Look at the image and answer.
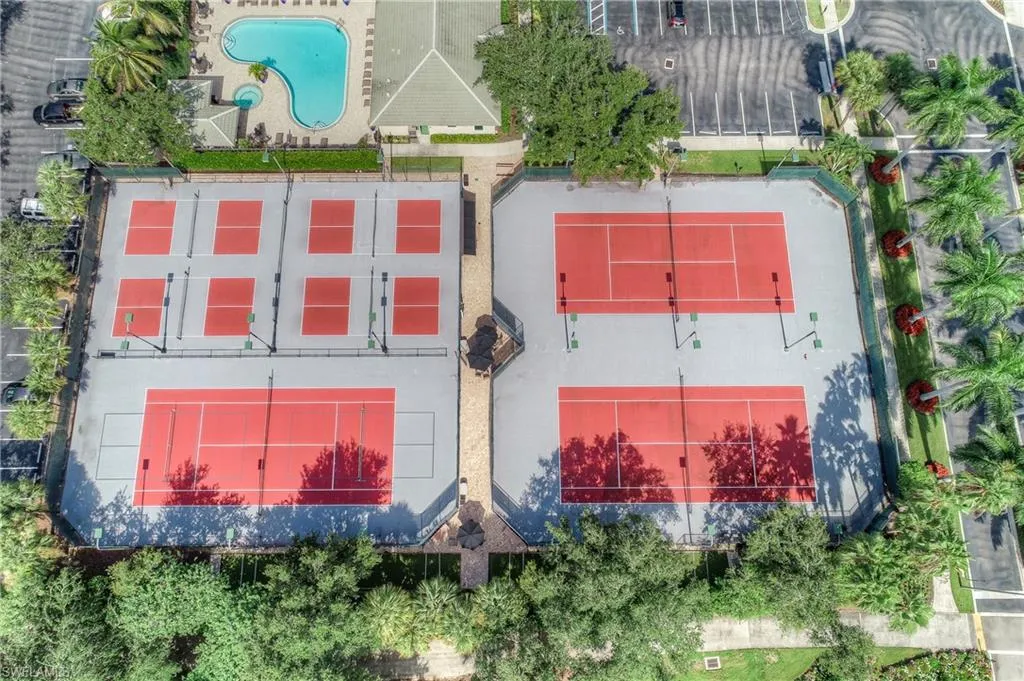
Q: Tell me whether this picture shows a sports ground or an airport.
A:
sports ground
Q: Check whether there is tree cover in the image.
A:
Yes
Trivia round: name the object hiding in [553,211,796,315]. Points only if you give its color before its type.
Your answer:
red tennis court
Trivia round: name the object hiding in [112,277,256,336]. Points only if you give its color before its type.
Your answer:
red sports court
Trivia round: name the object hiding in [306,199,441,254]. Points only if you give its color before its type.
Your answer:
red sports court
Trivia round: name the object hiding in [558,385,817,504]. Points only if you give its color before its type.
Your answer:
red tennis court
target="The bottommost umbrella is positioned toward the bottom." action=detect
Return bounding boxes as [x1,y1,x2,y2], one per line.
[455,520,486,552]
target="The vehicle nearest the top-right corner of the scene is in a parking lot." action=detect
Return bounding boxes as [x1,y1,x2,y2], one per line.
[669,0,691,26]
